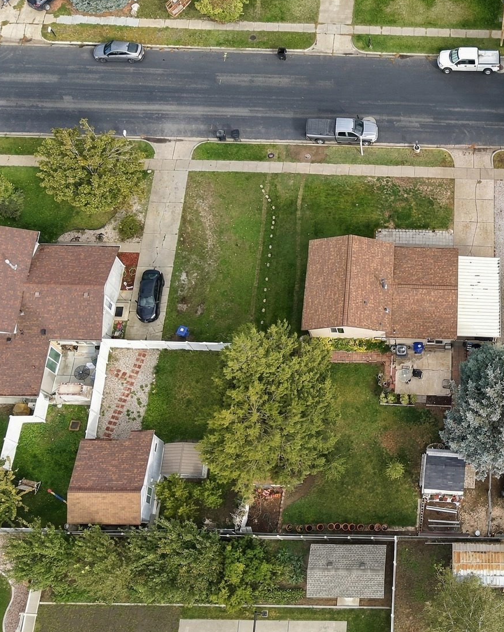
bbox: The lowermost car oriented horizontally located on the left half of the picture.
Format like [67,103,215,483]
[90,42,141,66]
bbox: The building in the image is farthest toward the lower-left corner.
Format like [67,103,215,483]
[66,431,165,526]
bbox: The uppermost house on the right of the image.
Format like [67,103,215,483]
[298,233,502,360]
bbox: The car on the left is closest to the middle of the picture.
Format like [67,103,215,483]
[134,269,167,322]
